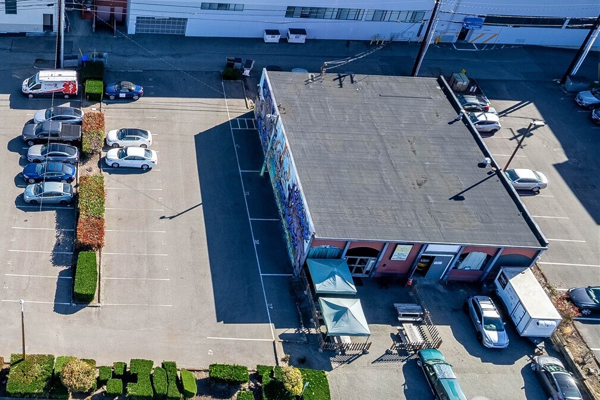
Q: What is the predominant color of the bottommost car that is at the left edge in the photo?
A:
blue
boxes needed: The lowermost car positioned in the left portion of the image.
[24,183,74,208]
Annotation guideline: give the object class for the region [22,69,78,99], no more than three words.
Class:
van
